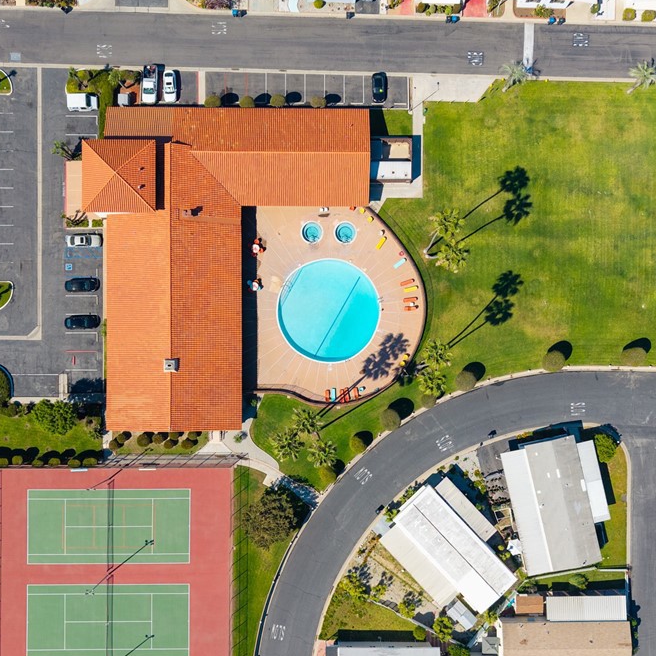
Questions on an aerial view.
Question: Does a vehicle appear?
Yes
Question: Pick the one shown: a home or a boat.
home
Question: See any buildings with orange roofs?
Yes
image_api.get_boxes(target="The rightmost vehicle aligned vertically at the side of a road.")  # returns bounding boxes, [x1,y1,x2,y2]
[373,70,388,103]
